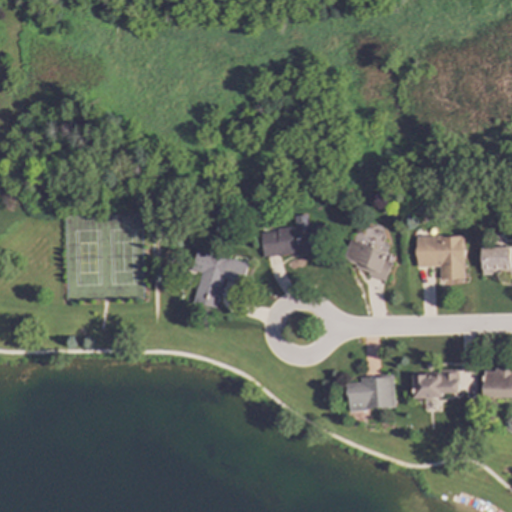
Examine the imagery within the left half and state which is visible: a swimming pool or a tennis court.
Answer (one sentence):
Visible within the left half is a tennis court.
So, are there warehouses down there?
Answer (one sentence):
No, I can see no warehouse in this picture.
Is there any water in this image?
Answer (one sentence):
Yes, water shows up in the scene.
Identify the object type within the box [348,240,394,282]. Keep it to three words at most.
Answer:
house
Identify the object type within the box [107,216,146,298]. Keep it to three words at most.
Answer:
tennis court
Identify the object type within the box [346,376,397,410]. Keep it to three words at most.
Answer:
house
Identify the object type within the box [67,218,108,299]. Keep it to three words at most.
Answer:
tennis court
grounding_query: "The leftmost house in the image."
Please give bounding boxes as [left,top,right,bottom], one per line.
[194,253,248,311]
